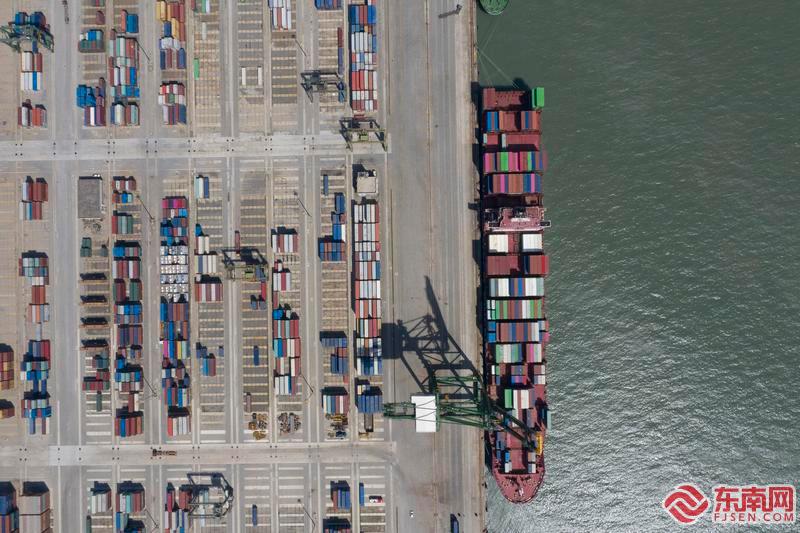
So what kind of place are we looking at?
port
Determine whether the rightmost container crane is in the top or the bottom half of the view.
bottom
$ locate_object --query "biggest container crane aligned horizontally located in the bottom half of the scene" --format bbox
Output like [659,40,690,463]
[384,366,536,456]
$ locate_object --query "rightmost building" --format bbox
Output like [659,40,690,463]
[357,172,377,199]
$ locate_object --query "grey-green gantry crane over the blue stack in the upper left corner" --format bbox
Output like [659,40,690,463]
[0,26,54,55]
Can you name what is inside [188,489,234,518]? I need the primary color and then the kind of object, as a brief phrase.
gray container crane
